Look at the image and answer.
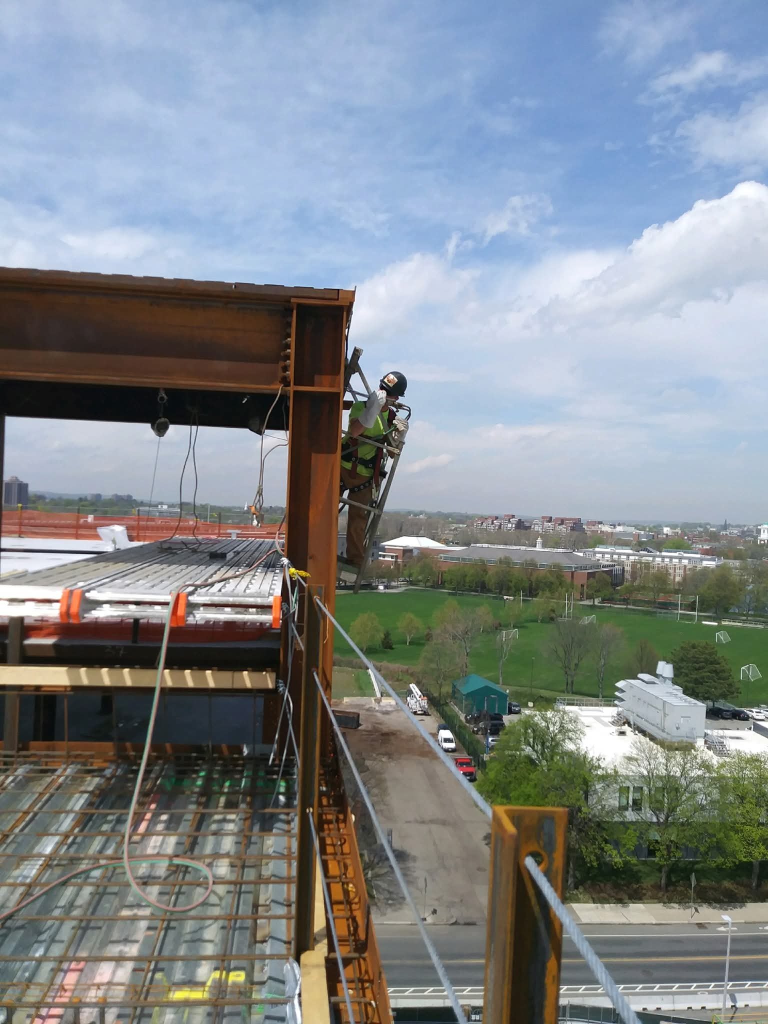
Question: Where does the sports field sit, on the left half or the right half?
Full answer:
You can find the sports field on the right side of the picture.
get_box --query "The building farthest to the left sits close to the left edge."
[7,476,38,511]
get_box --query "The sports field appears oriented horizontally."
[337,587,768,701]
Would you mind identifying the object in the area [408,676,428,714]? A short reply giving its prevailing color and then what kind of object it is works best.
white vehicle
